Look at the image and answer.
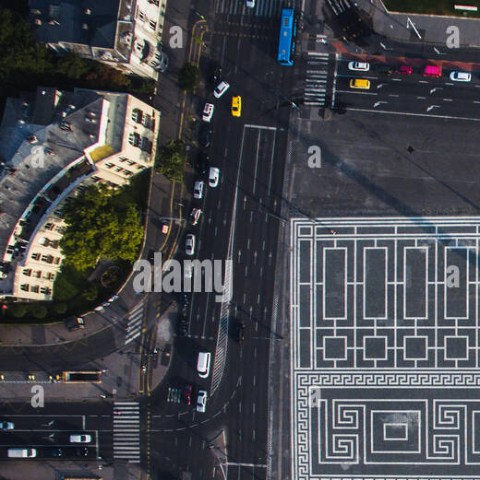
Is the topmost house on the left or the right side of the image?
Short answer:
left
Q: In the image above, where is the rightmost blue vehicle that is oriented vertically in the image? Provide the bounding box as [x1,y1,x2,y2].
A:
[277,8,300,70]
